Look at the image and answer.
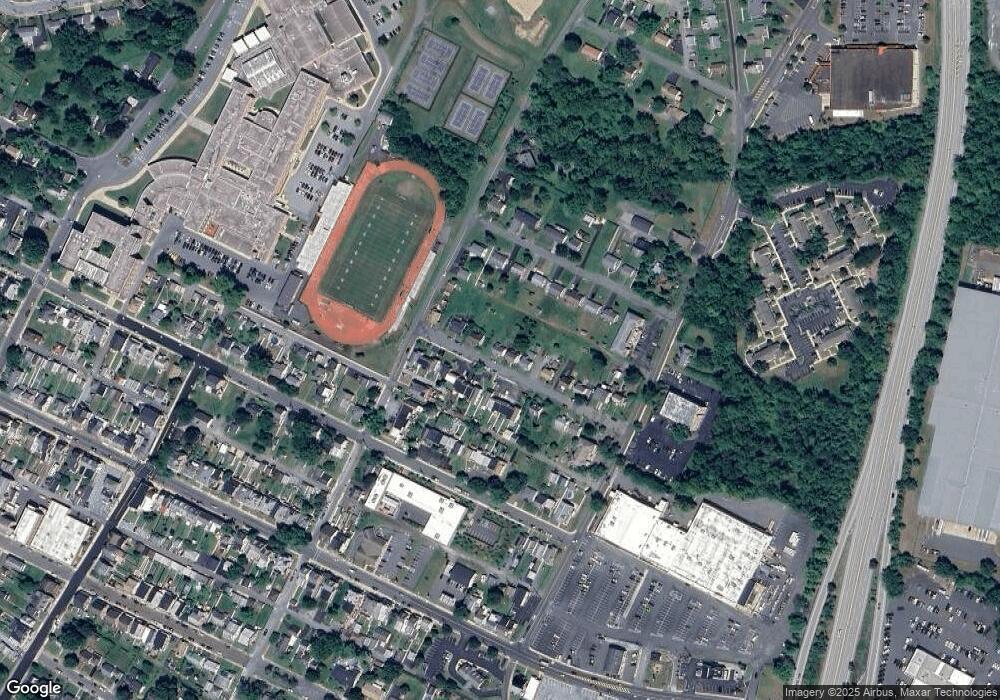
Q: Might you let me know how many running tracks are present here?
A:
1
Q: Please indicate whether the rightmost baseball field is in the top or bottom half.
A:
top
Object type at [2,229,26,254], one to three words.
house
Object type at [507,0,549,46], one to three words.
baseball field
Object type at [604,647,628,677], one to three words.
building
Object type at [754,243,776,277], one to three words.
building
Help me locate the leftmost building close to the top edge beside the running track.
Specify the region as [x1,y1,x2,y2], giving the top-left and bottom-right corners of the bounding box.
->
[131,0,377,263]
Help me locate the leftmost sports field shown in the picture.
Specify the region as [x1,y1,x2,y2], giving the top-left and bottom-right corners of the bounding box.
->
[320,171,435,321]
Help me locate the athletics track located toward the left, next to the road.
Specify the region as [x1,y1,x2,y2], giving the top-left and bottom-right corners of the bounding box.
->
[300,159,444,345]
